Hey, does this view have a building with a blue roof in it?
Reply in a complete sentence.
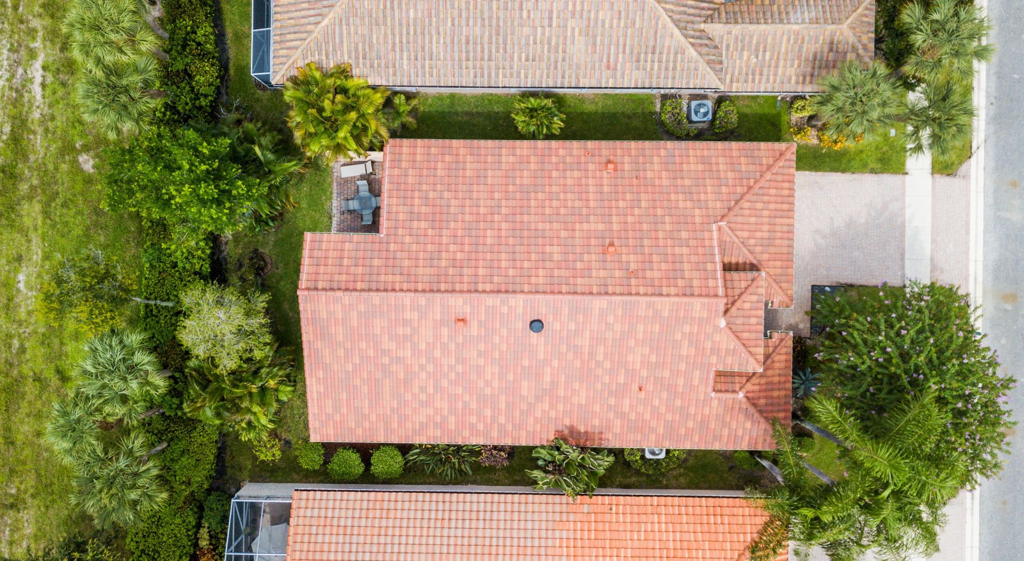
No, there's no building with a blue roof here.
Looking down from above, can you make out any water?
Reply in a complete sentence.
No, the scene doesn't show any water.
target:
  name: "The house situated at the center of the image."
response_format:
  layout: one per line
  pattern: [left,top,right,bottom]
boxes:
[295,137,799,453]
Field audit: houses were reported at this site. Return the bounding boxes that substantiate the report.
[295,137,799,453]
[269,0,879,116]
[286,483,789,561]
